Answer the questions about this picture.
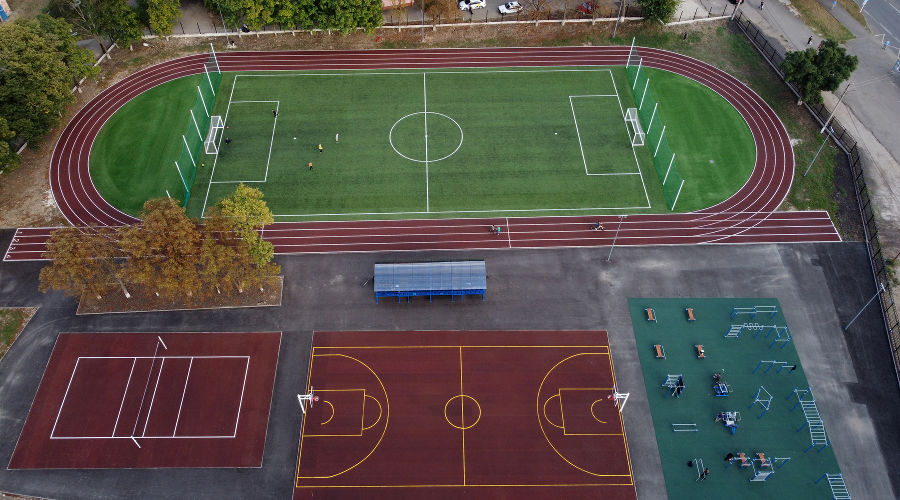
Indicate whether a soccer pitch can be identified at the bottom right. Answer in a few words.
No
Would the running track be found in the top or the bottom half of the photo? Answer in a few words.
top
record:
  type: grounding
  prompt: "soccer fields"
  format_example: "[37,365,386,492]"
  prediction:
[184,66,671,224]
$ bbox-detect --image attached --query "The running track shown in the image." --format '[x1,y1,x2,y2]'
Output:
[3,46,841,261]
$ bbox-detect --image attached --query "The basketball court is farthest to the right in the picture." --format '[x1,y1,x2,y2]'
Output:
[292,330,638,500]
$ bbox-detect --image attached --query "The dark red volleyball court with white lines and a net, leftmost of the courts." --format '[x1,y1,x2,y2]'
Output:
[5,330,283,470]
